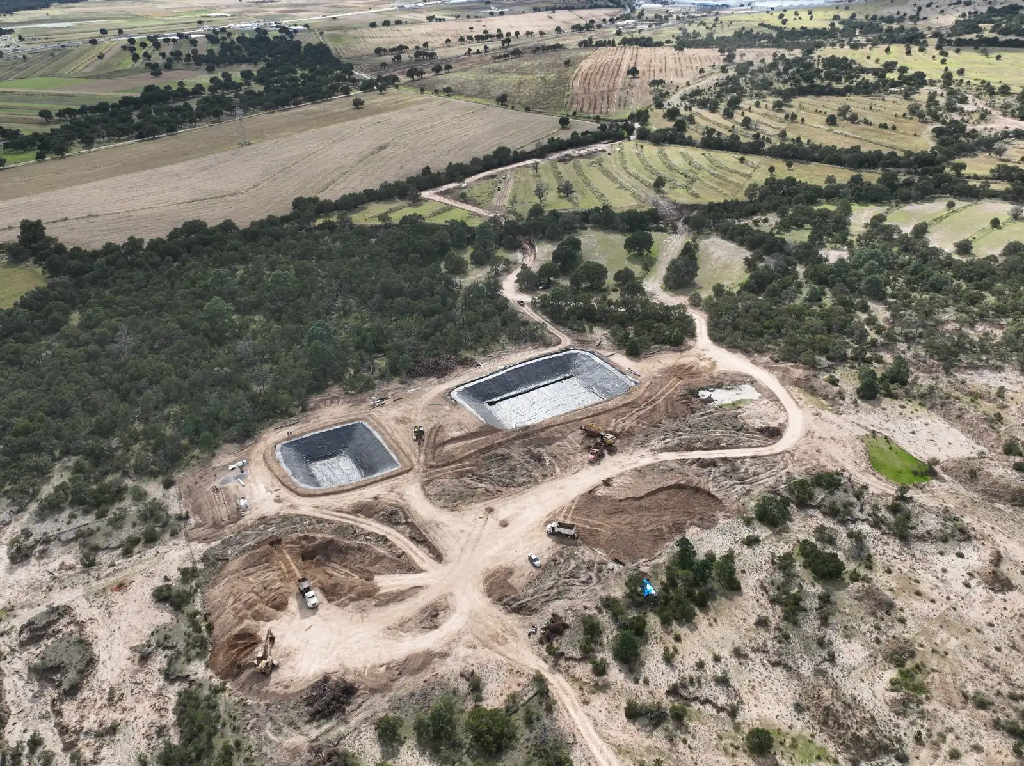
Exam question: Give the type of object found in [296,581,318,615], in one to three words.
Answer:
truck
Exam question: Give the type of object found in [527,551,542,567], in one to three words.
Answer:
car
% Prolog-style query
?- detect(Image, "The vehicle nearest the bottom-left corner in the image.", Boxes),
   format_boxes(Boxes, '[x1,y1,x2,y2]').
[252,629,278,676]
